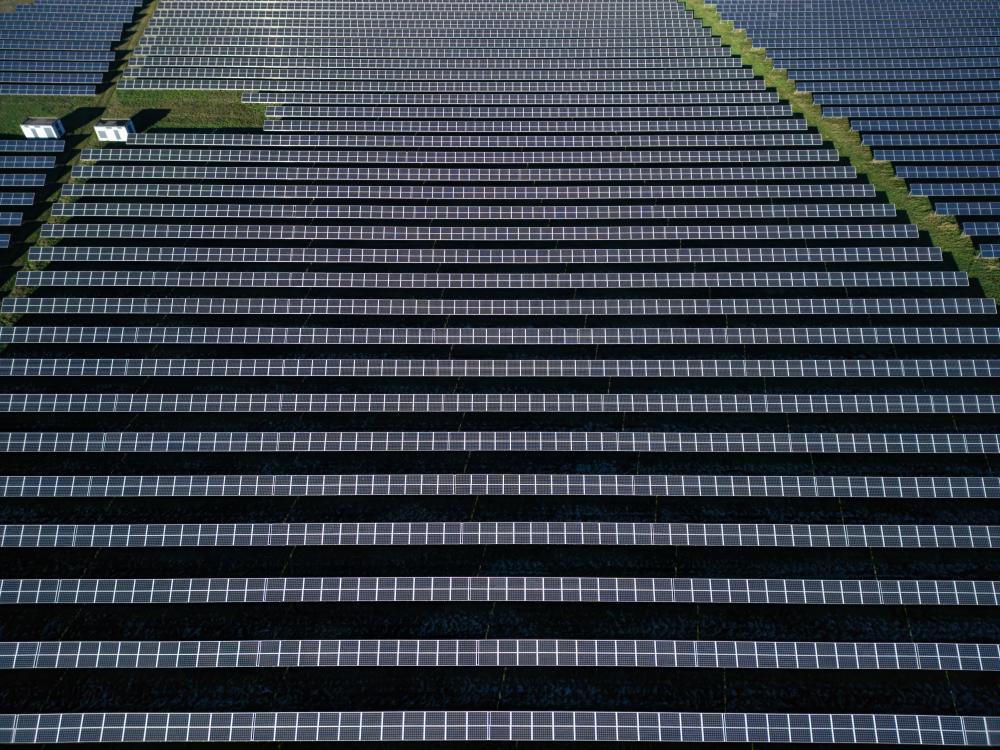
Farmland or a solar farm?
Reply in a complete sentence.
This image shows a solar farm.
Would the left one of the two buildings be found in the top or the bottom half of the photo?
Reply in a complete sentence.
You can find the left one of the two buildings in the top half.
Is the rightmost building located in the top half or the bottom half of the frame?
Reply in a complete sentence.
It is in the top half that the rightmost building appears.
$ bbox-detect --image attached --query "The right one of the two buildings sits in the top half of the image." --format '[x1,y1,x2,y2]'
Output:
[95,118,138,142]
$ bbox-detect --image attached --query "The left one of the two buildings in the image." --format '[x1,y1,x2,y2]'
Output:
[21,117,67,141]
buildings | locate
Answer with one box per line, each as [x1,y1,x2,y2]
[21,117,67,141]
[95,118,138,142]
